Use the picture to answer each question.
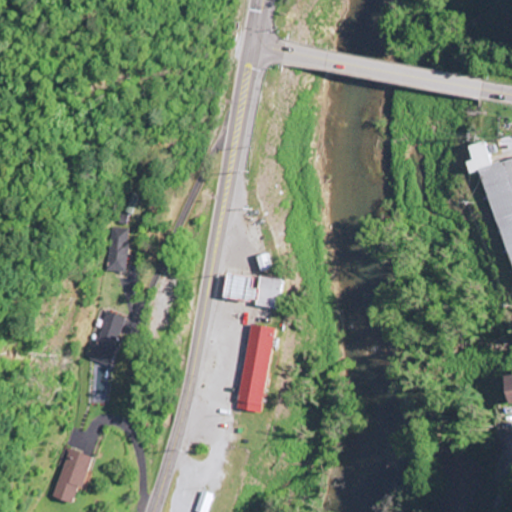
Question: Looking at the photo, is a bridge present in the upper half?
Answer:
Yes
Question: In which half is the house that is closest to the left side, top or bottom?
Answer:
bottom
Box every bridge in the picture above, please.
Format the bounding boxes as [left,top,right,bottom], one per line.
[282,32,488,108]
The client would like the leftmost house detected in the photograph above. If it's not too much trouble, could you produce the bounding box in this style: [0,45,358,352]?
[52,448,94,504]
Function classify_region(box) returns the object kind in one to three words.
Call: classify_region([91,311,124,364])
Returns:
house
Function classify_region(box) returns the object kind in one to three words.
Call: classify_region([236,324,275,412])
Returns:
building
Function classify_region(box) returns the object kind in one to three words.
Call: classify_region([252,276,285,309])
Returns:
building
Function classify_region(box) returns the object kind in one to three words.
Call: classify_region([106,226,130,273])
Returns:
house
